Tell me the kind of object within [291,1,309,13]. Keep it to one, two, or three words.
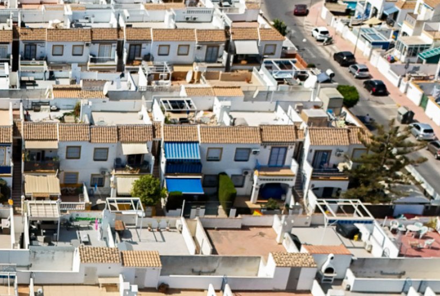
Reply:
vehicle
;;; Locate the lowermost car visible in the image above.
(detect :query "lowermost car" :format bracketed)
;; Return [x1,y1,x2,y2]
[423,137,440,156]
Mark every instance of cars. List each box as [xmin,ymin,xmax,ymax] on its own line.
[363,76,390,91]
[306,24,331,38]
[291,1,309,13]
[423,137,440,156]
[346,61,372,75]
[409,120,438,137]
[332,48,357,62]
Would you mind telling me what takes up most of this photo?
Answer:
buildings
